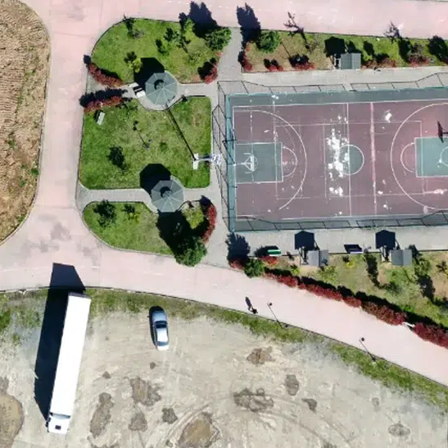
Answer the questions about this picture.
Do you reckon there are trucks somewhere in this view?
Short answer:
Yes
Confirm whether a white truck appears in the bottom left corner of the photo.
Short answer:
Yes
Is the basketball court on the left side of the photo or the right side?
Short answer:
right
